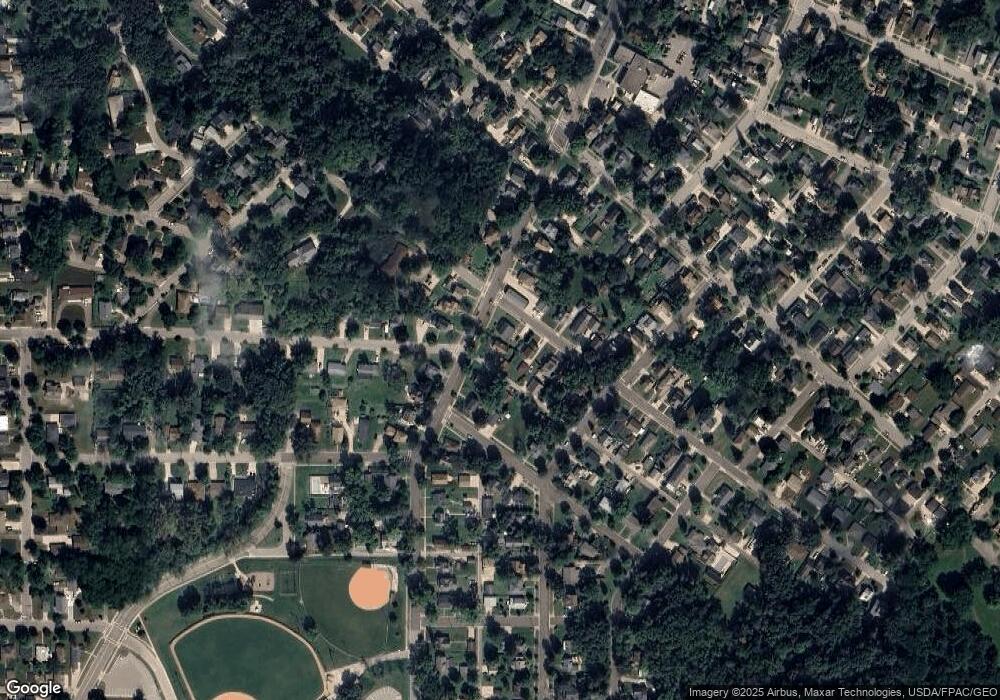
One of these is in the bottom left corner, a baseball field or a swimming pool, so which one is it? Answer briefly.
baseball field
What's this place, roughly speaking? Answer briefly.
residential area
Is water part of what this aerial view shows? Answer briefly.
No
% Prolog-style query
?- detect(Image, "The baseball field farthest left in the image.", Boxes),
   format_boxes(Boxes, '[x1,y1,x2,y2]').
[171,613,329,700]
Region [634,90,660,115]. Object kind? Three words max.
building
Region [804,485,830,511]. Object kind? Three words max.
house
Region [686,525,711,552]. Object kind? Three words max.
house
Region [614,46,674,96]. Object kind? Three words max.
building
